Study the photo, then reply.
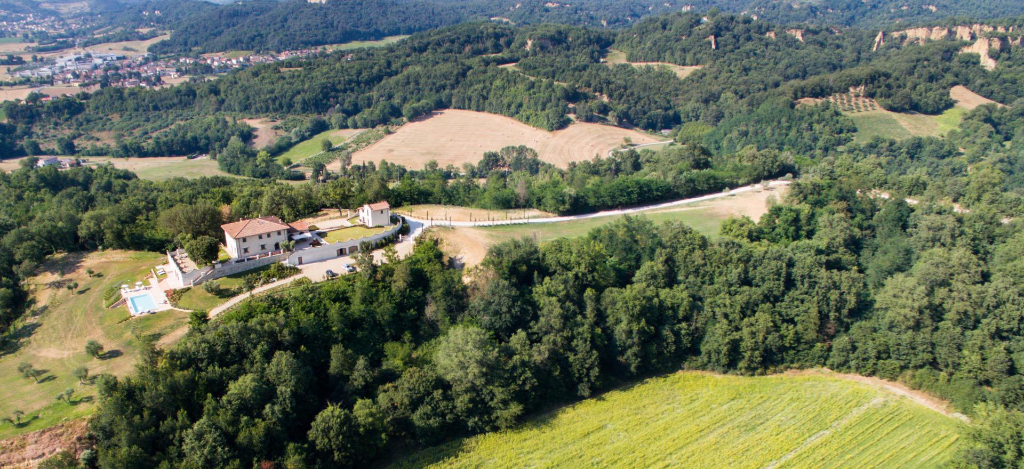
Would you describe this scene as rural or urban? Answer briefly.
rural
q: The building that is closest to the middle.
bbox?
[360,203,388,227]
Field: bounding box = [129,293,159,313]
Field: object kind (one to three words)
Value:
swimming pool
